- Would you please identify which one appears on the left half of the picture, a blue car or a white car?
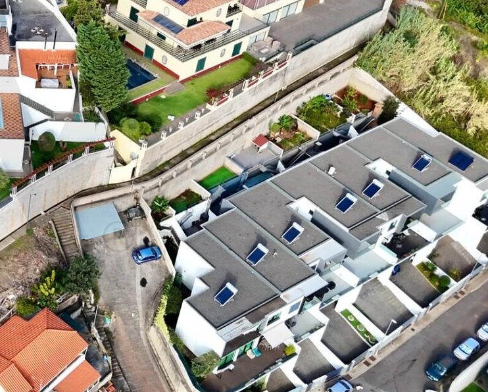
blue car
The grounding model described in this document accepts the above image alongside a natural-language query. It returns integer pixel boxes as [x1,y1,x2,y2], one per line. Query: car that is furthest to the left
[130,245,162,262]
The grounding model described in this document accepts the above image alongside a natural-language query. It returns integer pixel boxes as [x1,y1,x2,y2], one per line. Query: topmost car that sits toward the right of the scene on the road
[474,320,488,342]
